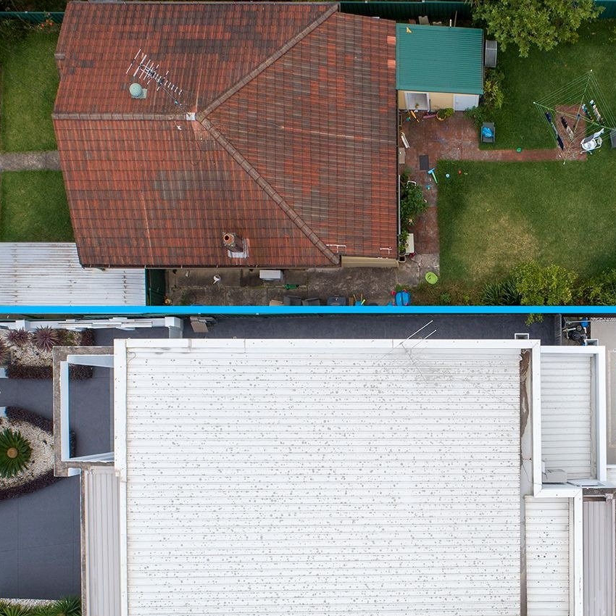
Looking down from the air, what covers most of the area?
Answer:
buildings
